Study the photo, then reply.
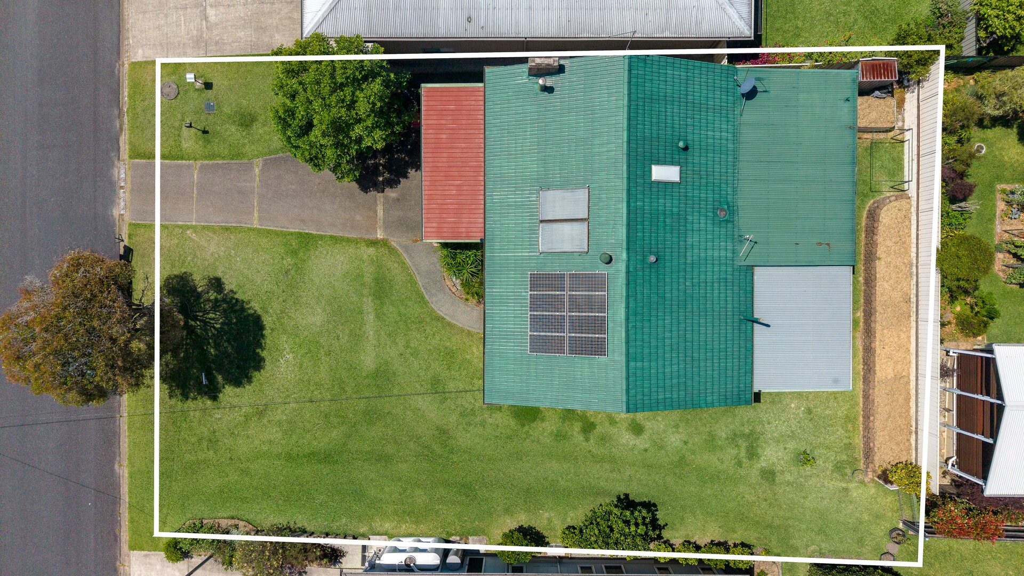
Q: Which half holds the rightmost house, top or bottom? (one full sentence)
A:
It is in the bottom half that the rightmost house appears.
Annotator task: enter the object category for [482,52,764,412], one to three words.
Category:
house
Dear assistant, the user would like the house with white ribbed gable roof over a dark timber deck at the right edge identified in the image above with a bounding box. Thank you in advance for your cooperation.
[942,340,1024,500]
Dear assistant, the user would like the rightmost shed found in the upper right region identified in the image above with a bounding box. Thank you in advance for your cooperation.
[852,55,899,92]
